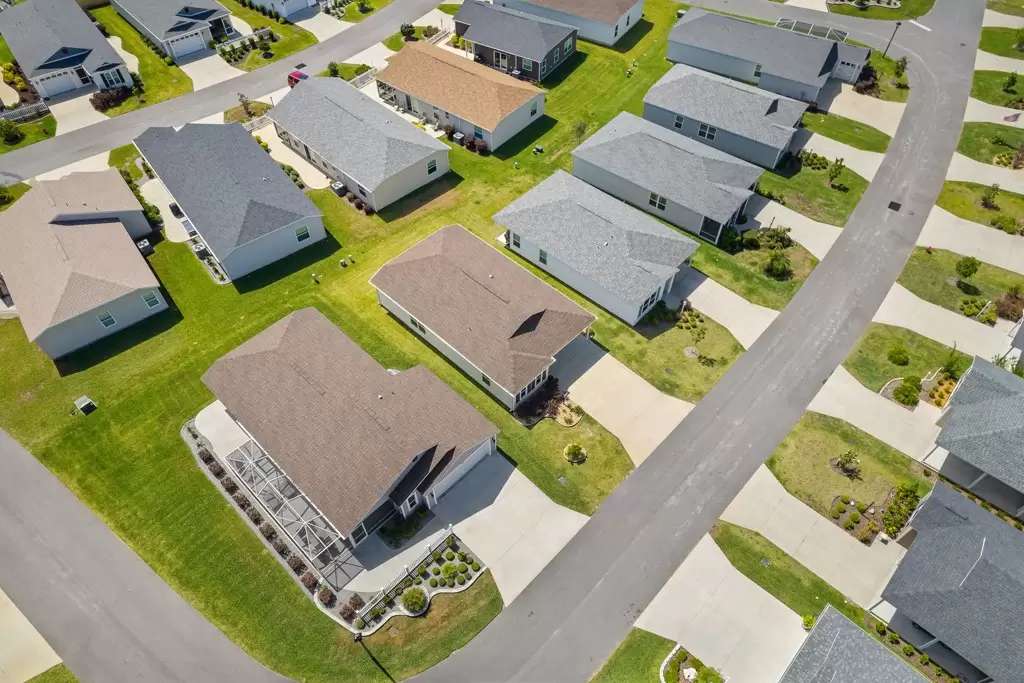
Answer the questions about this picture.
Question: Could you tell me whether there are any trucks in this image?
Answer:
No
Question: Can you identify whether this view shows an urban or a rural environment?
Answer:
urban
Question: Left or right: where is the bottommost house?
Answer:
right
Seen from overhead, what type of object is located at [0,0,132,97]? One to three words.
house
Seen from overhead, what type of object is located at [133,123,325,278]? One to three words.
house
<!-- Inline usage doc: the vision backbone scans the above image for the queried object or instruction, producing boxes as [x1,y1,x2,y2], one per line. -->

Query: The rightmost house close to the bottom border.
[869,487,1024,683]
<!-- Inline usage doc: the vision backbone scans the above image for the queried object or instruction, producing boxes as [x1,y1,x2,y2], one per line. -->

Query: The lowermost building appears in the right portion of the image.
[773,604,927,683]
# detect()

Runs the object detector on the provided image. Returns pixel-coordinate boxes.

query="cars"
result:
[286,70,311,88]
